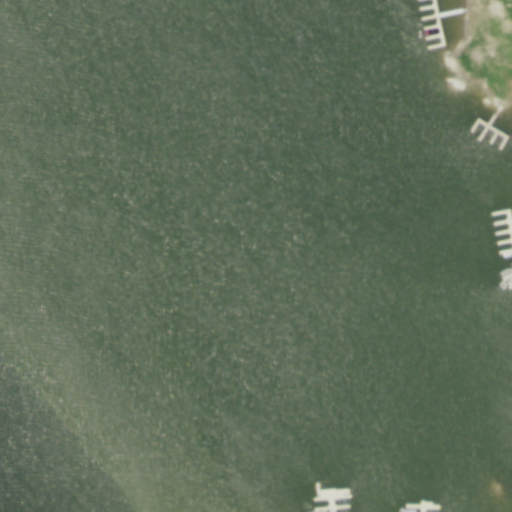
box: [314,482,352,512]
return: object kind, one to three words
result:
pier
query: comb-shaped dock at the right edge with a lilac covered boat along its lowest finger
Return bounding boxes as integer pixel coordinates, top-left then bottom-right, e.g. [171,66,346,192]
[491,208,512,254]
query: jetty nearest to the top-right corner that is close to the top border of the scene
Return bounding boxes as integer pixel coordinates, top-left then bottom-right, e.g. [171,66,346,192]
[418,0,466,50]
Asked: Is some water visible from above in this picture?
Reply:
Yes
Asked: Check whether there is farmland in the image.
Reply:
No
